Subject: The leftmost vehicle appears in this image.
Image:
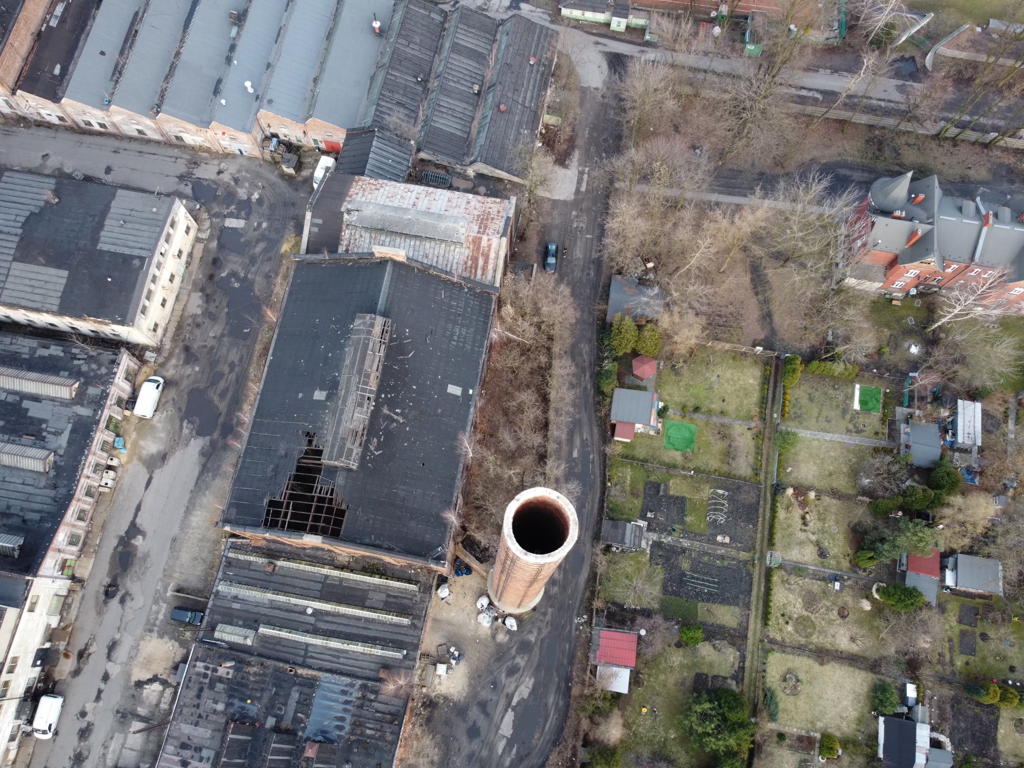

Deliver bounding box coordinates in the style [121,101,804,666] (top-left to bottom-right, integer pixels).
[29,691,64,743]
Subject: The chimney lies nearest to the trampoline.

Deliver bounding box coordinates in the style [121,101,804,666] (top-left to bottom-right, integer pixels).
[486,488,577,616]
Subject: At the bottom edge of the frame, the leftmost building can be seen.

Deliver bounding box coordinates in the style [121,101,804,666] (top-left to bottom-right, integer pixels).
[0,570,80,768]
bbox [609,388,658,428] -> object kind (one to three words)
building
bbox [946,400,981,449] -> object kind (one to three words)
shed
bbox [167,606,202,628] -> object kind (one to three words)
car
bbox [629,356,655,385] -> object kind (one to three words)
gazebo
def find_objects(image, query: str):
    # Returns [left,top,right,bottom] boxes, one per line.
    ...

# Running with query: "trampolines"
[664,420,696,452]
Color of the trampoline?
green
